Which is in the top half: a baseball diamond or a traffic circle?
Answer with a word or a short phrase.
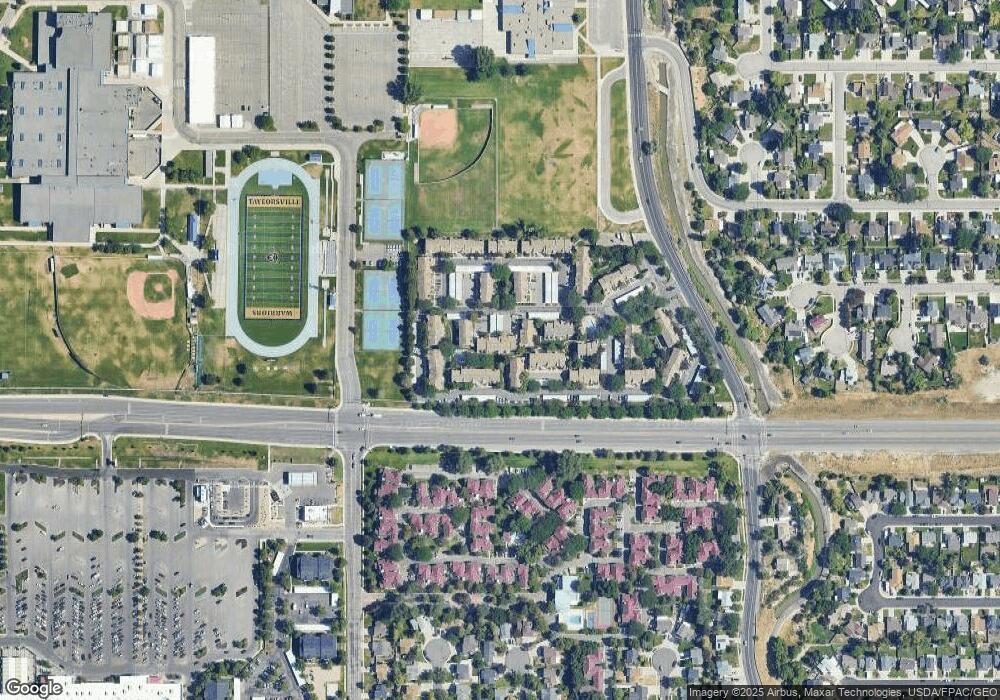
baseball diamond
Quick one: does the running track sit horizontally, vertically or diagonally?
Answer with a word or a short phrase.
vertically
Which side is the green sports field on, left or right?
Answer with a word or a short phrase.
left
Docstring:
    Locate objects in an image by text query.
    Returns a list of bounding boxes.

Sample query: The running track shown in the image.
[227,159,320,358]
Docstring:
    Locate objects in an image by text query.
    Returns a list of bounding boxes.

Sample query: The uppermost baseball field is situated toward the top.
[418,109,457,147]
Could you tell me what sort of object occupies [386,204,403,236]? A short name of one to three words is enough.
tennis court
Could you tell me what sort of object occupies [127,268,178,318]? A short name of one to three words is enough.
baseball field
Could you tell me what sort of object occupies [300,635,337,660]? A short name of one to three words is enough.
building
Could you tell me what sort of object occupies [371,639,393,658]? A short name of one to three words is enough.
house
